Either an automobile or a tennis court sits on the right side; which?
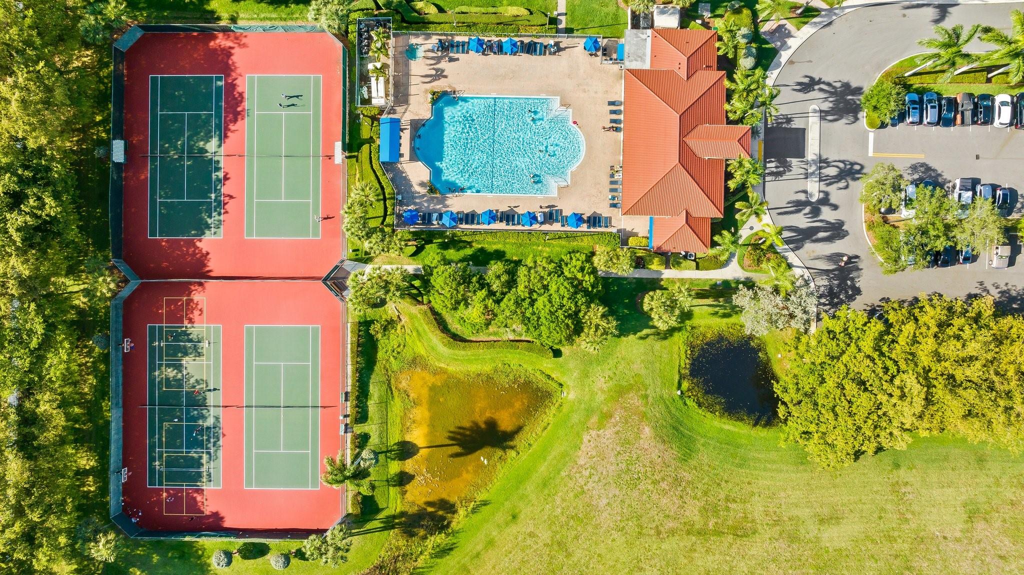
automobile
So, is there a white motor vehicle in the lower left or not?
No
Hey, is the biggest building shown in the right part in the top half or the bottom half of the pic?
top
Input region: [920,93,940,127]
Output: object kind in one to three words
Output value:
car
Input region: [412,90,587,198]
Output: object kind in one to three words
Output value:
swimming pool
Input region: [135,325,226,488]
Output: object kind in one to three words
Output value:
tennis court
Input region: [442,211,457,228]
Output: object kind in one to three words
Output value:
umbrella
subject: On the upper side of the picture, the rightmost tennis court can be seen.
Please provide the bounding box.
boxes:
[233,75,329,238]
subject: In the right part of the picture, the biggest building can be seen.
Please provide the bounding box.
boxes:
[620,28,752,253]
